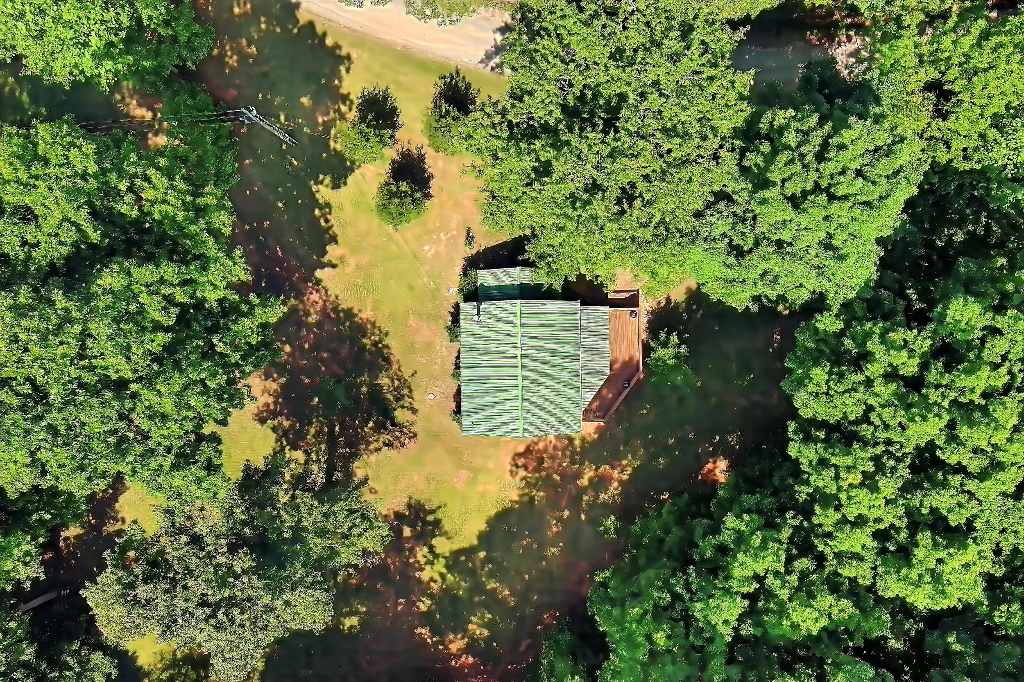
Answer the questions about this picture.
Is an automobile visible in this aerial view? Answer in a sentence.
No, the picture doesn't show any automobile.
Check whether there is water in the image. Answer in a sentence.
No, the picture contains no water.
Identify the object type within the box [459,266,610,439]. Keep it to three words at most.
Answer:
building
